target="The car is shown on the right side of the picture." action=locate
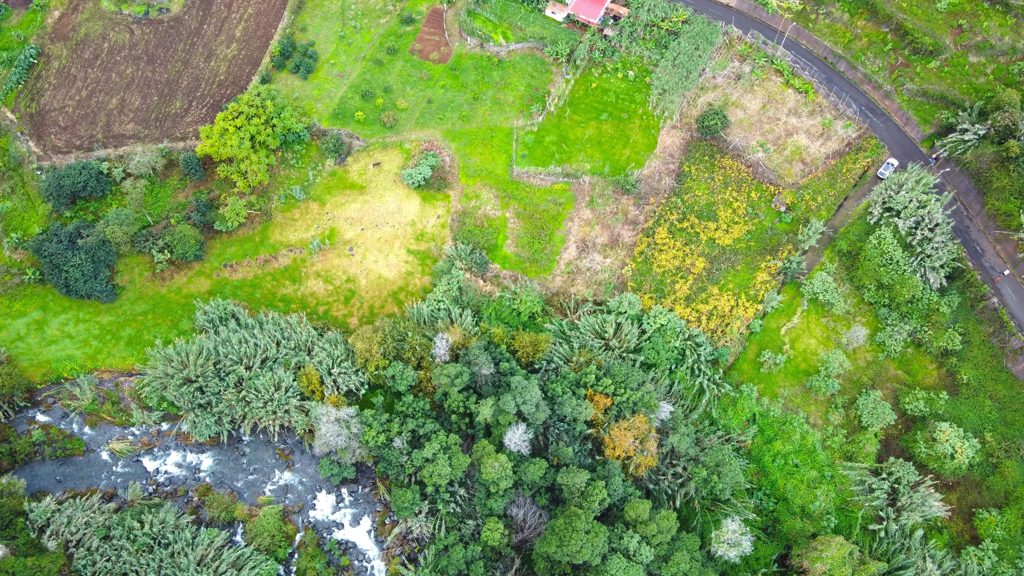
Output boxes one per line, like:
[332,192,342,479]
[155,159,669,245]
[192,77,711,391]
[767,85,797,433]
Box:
[878,159,896,176]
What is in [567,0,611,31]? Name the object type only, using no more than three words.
house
